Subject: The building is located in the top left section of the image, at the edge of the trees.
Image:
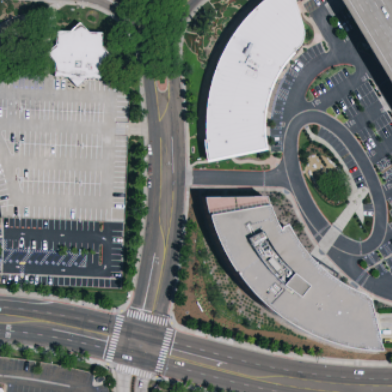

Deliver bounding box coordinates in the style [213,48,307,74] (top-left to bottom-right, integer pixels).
[51,26,108,86]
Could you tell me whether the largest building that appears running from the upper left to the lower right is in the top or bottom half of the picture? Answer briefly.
bottom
